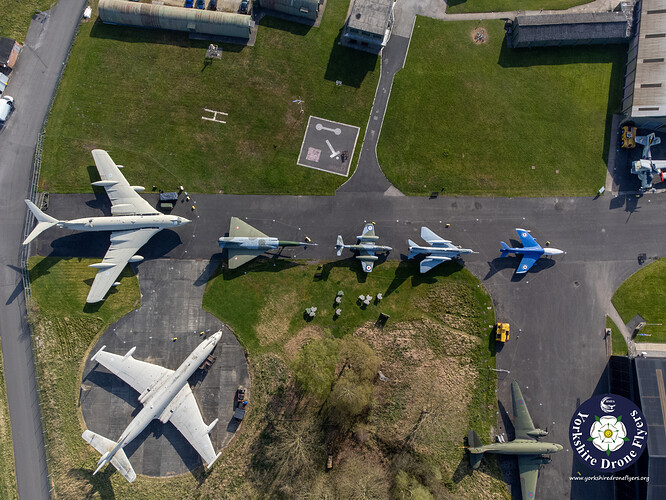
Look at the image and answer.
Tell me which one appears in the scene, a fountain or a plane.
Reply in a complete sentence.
This aerial view contains a plane.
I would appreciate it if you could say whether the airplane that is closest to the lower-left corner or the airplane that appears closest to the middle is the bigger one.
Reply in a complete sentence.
The larger object is the airplane that is closest to the lower-left corner, with the airplane that appears closest to the middle being the smaller of the pair.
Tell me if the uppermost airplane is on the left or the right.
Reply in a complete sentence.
You can find the uppermost airplane on the right side of the picture.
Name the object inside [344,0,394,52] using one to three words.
building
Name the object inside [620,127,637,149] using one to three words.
vehicle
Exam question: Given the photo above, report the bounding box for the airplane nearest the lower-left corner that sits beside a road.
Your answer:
[81,330,223,482]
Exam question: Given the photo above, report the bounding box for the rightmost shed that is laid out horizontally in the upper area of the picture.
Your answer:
[498,9,639,48]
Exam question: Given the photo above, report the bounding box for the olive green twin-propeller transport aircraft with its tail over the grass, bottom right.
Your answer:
[458,380,563,500]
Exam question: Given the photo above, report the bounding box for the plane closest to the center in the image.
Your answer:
[336,224,392,273]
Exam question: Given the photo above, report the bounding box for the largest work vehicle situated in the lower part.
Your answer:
[495,323,511,342]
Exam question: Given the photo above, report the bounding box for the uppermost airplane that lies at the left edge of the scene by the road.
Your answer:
[19,150,190,300]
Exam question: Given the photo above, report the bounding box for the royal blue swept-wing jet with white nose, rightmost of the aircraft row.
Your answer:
[500,229,566,273]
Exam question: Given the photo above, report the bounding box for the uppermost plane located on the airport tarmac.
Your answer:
[632,129,666,191]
